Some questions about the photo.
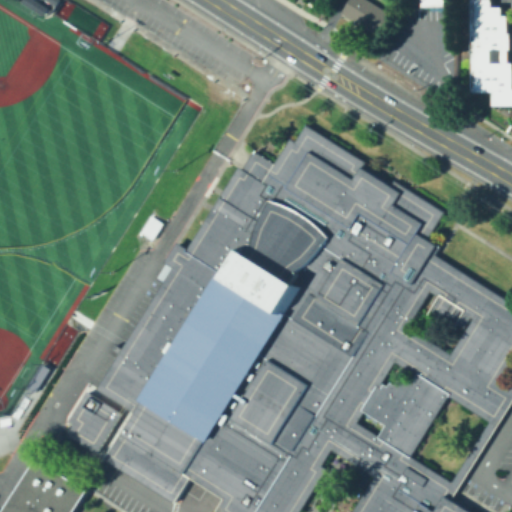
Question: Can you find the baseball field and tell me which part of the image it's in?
left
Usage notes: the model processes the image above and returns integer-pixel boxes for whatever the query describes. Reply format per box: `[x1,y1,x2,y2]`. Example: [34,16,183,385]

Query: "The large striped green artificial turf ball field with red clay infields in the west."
[0,0,203,414]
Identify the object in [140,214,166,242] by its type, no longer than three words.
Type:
shed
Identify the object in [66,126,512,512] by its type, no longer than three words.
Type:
building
